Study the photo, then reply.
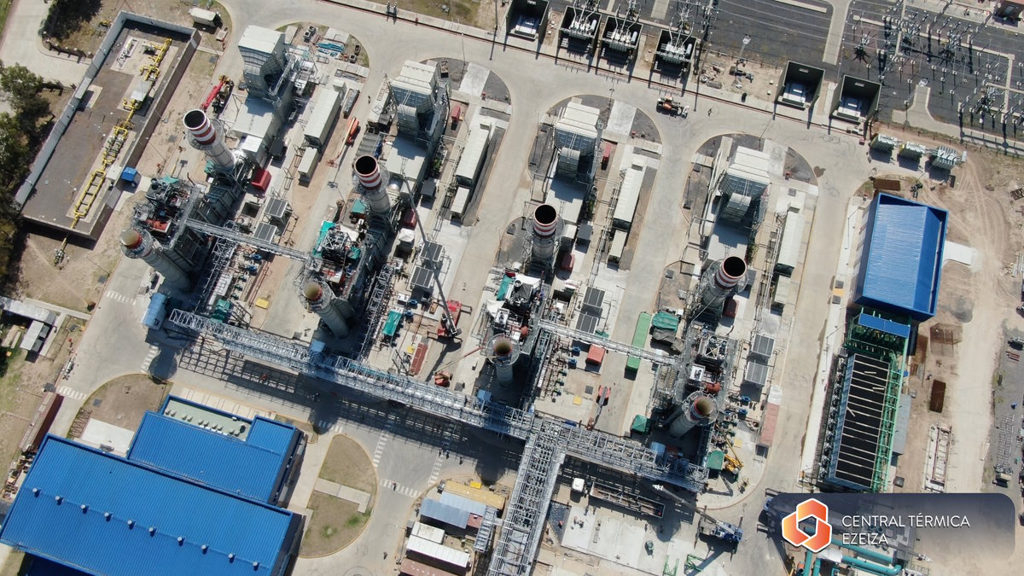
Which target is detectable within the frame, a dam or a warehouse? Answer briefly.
warehouse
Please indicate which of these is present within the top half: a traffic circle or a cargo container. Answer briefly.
cargo container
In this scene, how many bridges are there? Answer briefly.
2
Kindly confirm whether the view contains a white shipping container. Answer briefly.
Yes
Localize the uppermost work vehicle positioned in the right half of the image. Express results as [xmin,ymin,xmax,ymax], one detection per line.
[661,97,691,113]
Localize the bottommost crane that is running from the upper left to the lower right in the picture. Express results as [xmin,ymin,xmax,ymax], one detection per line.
[651,483,752,551]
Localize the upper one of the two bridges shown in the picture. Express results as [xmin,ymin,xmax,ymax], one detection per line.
[186,218,320,285]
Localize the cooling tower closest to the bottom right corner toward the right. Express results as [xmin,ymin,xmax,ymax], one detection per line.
[804,310,910,495]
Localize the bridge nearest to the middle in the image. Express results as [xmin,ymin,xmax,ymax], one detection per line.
[536,319,681,378]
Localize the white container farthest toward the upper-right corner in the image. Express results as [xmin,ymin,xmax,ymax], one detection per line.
[763,199,806,274]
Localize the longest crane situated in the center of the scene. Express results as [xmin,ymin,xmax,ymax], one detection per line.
[400,169,468,347]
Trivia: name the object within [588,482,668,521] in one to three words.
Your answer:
trailer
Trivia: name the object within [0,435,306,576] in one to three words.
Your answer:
warehouse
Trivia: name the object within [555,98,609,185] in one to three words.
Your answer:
house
